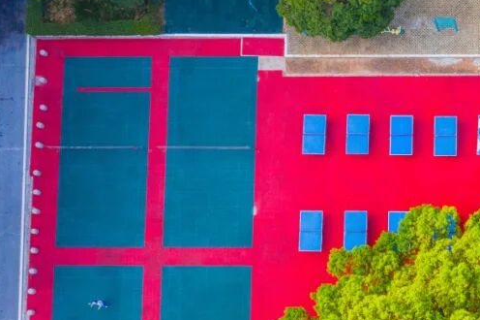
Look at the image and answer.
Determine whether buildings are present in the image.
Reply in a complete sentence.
No, I find no building anywhere in the image.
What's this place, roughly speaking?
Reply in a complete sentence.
What you see here is a sports ground.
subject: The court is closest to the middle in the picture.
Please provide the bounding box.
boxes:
[163,57,256,247]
